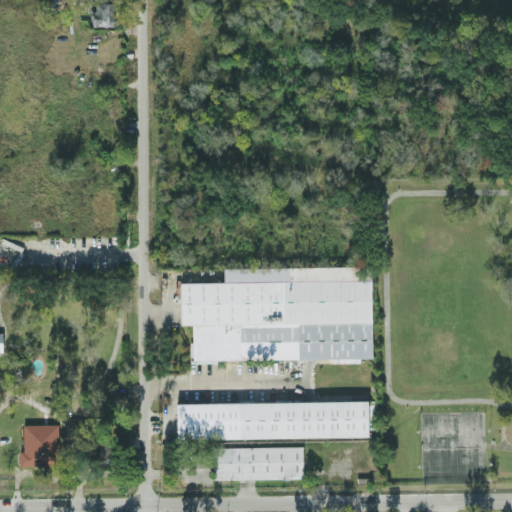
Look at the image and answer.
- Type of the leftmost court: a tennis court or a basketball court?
tennis court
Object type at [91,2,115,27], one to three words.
house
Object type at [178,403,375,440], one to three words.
shed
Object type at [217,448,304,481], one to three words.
shed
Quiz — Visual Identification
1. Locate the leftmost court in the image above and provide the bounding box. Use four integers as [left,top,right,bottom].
[422,412,487,485]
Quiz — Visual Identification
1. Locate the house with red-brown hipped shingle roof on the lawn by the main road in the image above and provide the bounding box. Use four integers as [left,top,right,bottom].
[18,426,60,468]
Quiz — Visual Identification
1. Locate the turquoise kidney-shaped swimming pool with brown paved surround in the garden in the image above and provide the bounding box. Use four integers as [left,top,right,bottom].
[30,354,48,380]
